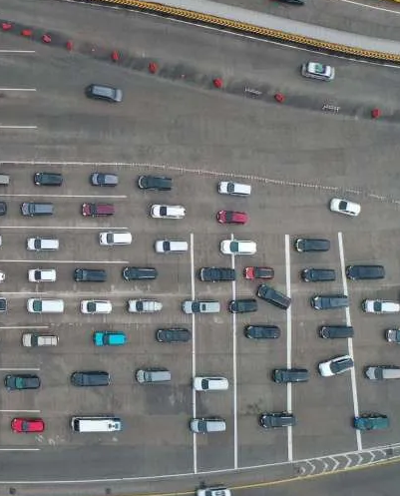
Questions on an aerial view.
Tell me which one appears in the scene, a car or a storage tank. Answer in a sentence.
Looking from above, you can make out a car.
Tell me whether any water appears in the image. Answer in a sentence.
No, the scene doesn't show any water.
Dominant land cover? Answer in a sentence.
The largest share of the image is taken up by paved ground.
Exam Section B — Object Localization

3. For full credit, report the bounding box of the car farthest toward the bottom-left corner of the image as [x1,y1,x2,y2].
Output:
[11,416,46,433]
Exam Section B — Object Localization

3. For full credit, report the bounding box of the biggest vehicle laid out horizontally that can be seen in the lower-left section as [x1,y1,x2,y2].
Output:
[70,414,123,433]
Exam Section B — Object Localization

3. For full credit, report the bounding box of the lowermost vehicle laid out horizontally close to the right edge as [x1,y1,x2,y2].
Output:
[352,413,392,430]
